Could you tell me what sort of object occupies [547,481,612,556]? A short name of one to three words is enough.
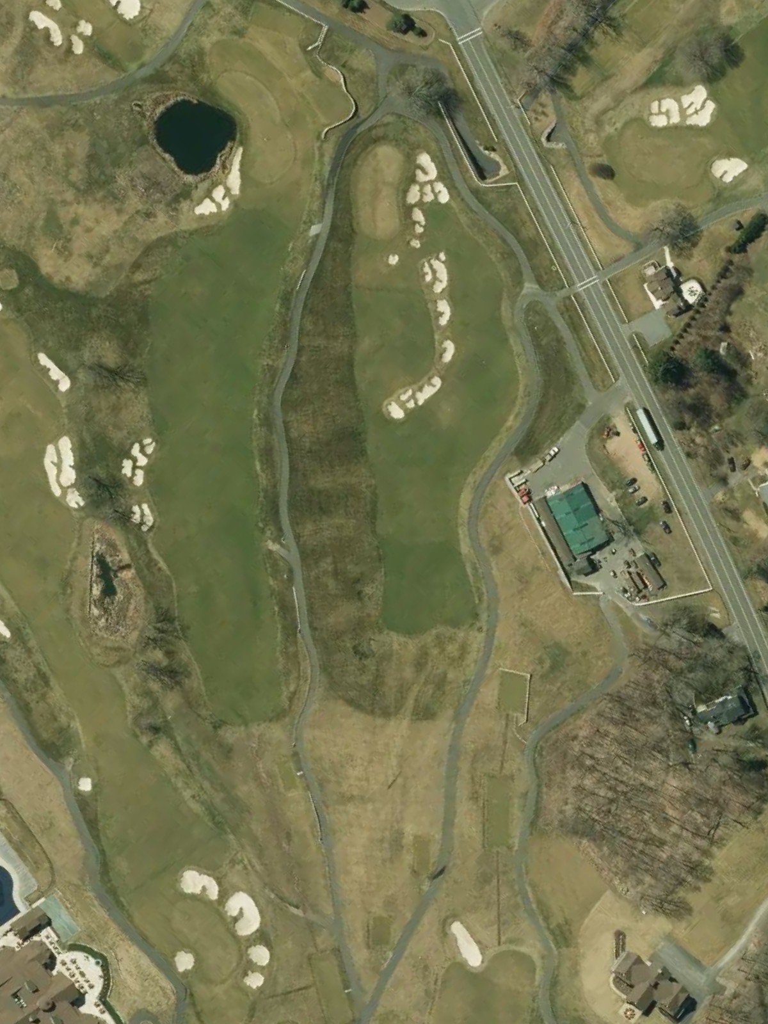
barn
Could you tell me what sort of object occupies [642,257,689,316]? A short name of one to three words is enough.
house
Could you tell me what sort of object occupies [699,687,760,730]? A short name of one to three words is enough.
house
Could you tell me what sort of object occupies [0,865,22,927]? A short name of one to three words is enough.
swimming pool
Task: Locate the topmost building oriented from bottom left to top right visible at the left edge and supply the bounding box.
[8,905,49,942]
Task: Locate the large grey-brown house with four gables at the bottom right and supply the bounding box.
[614,949,695,1018]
